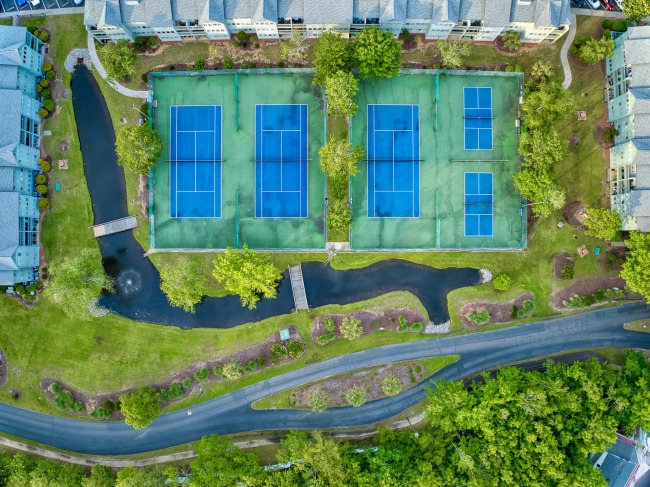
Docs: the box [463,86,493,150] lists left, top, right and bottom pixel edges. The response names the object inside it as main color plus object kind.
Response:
blue sports court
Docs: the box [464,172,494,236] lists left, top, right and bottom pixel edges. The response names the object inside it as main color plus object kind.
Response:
blue sports court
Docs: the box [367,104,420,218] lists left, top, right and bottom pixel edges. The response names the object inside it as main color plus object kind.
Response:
blue tennis court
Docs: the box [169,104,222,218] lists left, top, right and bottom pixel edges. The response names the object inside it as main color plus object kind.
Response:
blue tennis court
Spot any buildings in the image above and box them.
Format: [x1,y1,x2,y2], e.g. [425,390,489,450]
[80,0,577,40]
[609,22,650,234]
[0,21,41,288]
[582,436,649,487]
